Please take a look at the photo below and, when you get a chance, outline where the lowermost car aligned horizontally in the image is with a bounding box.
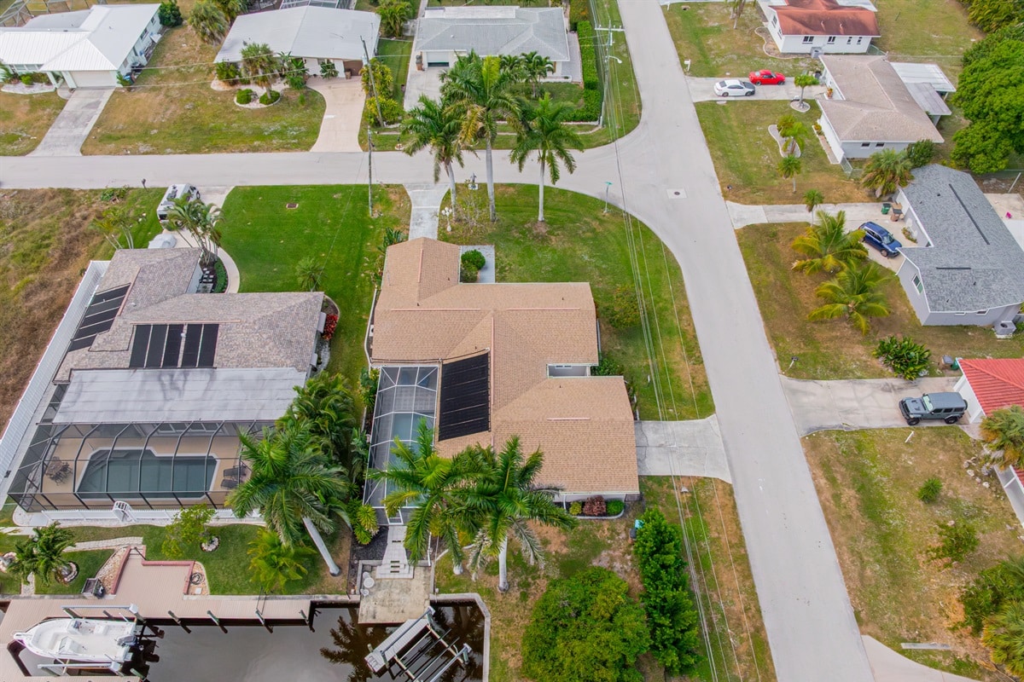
[901,391,973,424]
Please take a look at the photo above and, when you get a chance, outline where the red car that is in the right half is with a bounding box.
[748,66,789,83]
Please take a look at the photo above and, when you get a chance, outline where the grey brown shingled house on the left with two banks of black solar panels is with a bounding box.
[49,248,328,427]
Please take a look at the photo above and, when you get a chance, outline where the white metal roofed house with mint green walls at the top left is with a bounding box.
[0,4,159,94]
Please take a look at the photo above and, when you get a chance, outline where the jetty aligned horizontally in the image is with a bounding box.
[0,557,312,682]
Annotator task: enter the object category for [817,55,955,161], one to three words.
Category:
house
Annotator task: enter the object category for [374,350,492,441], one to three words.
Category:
solar panel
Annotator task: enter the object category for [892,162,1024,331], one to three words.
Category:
house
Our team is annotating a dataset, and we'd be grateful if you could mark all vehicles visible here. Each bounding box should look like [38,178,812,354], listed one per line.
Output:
[152,186,202,235]
[748,66,789,83]
[901,391,973,424]
[713,75,759,94]
[857,220,906,259]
